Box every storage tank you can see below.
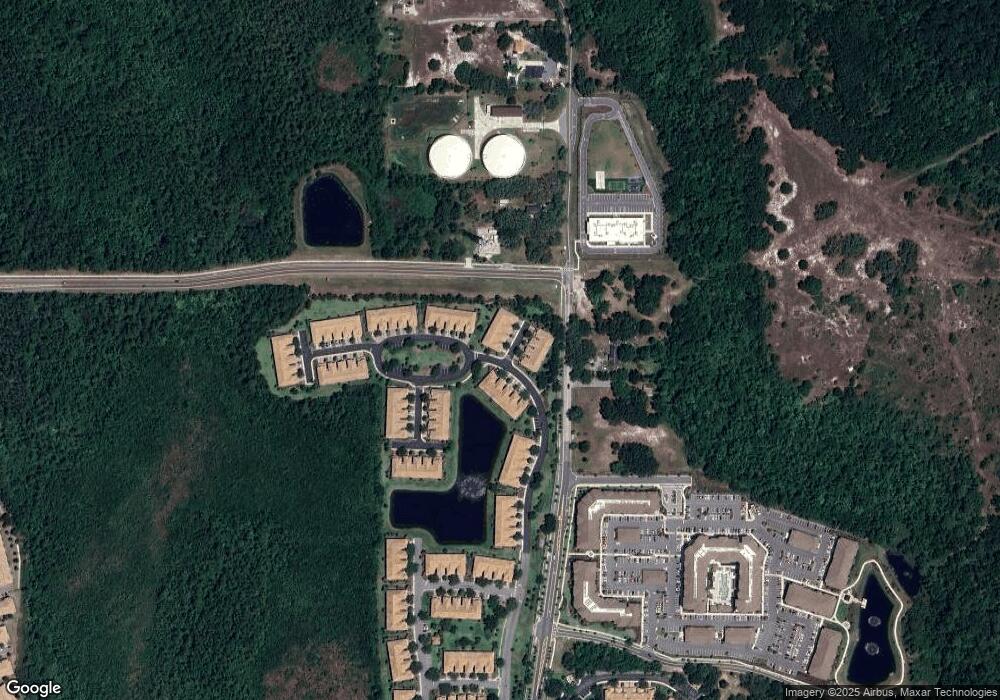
[429,136,473,179]
[482,136,525,179]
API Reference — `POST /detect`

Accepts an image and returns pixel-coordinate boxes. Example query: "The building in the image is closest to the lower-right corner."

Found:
[808,628,843,679]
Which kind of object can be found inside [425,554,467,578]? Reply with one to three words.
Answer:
house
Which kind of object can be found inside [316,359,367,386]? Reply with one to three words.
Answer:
house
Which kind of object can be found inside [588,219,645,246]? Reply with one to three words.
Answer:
building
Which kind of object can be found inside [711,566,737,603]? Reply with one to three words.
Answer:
swimming pool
